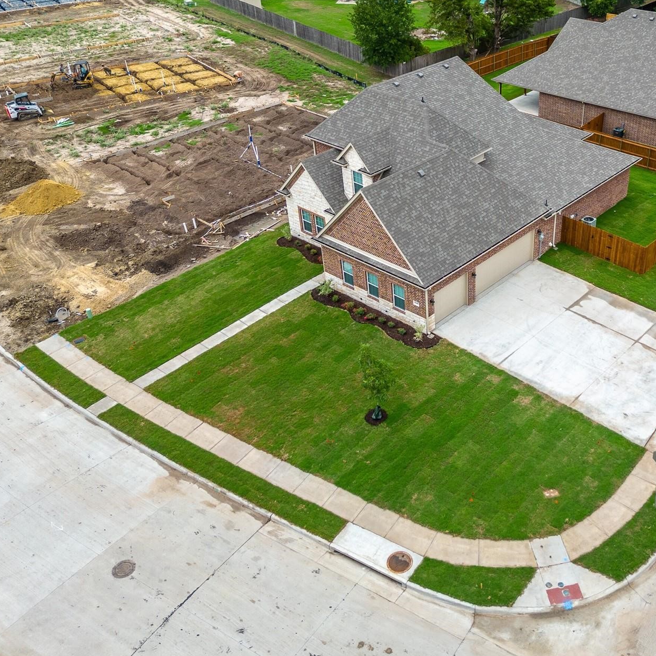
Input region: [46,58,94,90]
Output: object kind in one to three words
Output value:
work vehicle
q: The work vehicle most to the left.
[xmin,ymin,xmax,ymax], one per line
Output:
[3,90,53,119]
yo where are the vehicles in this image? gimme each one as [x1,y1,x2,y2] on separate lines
[3,90,53,119]
[46,58,94,90]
